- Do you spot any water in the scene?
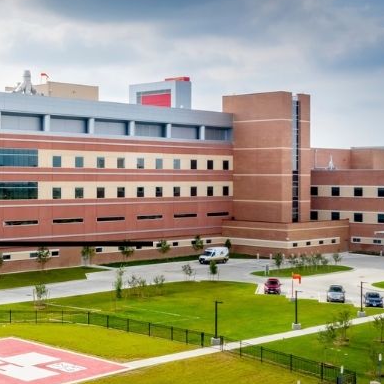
No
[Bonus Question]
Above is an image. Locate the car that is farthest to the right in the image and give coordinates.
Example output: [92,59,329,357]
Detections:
[364,289,384,306]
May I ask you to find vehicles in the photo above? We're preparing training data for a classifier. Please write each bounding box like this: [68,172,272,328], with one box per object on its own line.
[327,283,347,301]
[196,245,231,263]
[265,277,284,292]
[364,289,384,306]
